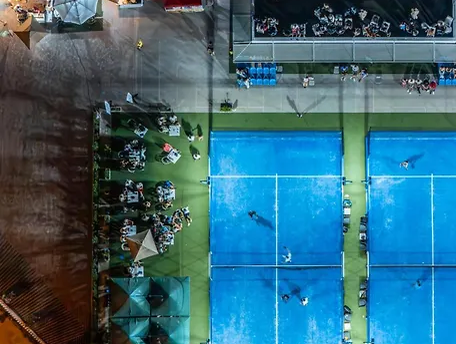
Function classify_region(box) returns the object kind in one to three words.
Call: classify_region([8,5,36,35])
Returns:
umbrella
